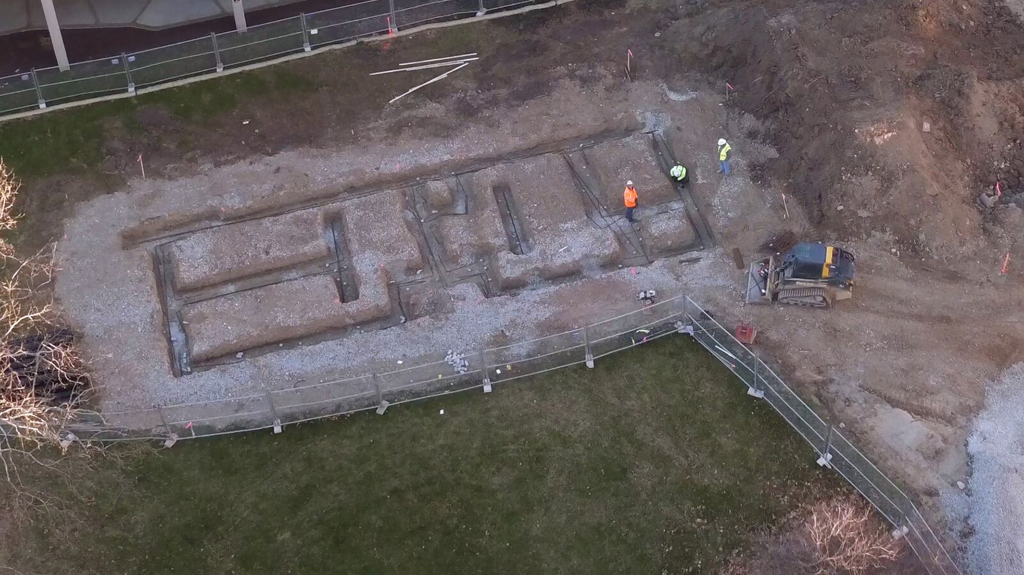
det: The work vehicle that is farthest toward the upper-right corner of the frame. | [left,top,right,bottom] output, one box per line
[744,241,857,308]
